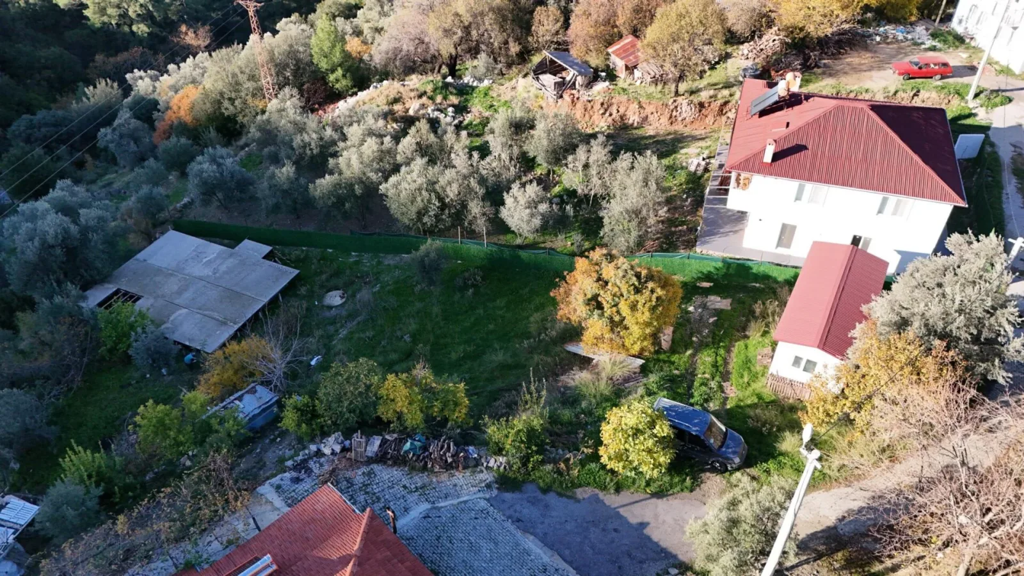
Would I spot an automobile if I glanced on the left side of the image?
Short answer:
No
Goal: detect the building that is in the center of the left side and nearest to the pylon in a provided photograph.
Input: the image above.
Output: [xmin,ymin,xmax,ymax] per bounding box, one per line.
[86,229,301,353]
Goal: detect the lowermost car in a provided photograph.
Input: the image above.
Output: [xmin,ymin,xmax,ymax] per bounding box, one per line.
[886,53,957,79]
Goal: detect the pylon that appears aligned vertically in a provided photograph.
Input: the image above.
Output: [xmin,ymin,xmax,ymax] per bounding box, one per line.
[226,0,286,129]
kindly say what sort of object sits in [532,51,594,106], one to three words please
shed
